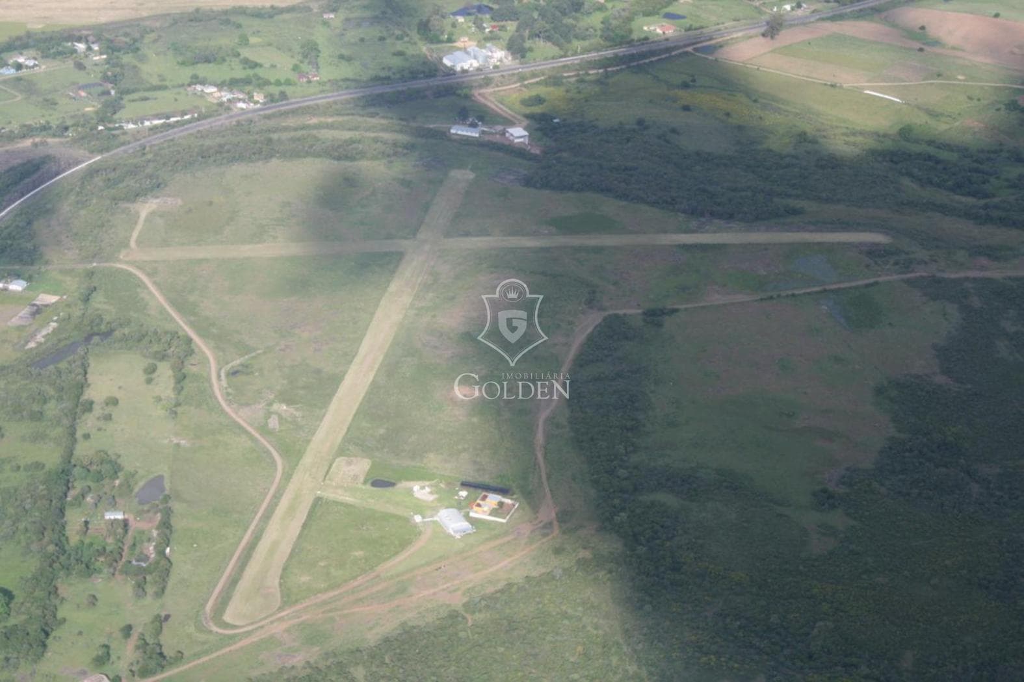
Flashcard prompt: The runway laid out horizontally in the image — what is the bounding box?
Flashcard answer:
[121,232,892,260]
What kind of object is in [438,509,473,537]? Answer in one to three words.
hangar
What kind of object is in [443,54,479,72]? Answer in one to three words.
building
